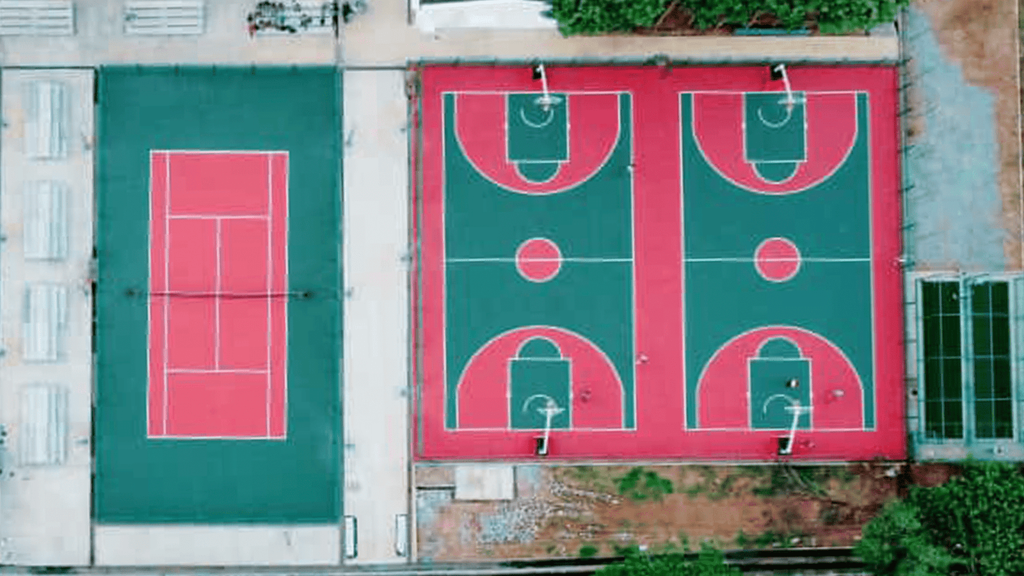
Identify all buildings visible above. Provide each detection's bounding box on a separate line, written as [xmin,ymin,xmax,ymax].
[453,466,512,499]
[424,0,564,43]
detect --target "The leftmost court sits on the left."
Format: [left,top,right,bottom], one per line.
[95,69,341,525]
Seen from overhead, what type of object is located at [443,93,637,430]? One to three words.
basketball court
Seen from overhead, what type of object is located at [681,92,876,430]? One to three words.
basketball court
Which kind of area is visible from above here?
sports ground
